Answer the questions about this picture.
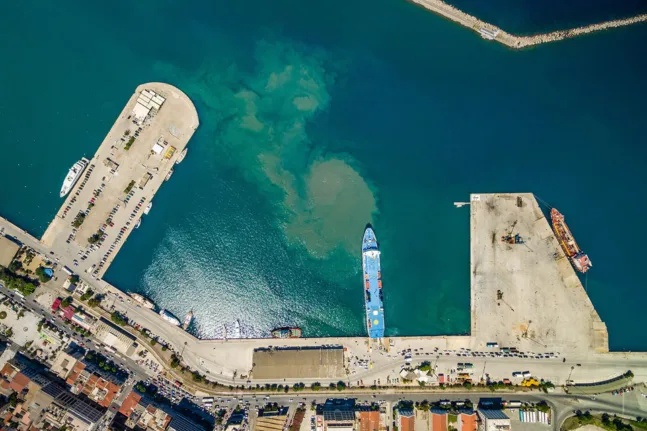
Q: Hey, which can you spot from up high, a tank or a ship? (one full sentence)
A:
Of the two, only a ship appears.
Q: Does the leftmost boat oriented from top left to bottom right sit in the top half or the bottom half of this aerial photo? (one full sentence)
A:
Seen from above, the leftmost boat oriented from top left to bottom right lies in the bottom half of the view.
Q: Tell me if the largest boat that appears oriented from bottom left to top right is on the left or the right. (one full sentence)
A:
It is on the left.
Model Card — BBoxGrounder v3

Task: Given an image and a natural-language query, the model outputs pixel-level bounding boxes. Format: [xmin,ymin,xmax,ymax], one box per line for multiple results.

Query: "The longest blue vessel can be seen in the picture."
[361,222,391,341]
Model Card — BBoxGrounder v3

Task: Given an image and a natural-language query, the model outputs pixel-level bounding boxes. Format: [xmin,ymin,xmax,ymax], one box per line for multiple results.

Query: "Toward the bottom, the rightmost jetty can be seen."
[469,193,608,352]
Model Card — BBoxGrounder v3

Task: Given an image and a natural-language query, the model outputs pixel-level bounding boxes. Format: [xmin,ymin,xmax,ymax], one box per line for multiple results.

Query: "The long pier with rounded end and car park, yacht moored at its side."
[40,82,200,279]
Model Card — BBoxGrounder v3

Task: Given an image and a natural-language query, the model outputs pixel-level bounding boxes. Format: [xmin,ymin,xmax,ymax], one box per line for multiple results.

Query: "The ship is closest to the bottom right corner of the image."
[533,194,591,291]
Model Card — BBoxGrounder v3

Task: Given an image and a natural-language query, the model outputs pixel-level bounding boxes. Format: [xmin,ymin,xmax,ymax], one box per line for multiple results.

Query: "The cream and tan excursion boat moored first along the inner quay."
[130,291,156,311]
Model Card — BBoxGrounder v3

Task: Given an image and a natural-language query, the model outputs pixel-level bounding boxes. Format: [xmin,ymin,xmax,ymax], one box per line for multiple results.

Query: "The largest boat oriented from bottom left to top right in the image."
[62,156,90,197]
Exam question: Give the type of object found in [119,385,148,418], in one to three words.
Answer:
building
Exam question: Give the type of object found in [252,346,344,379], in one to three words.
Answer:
building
